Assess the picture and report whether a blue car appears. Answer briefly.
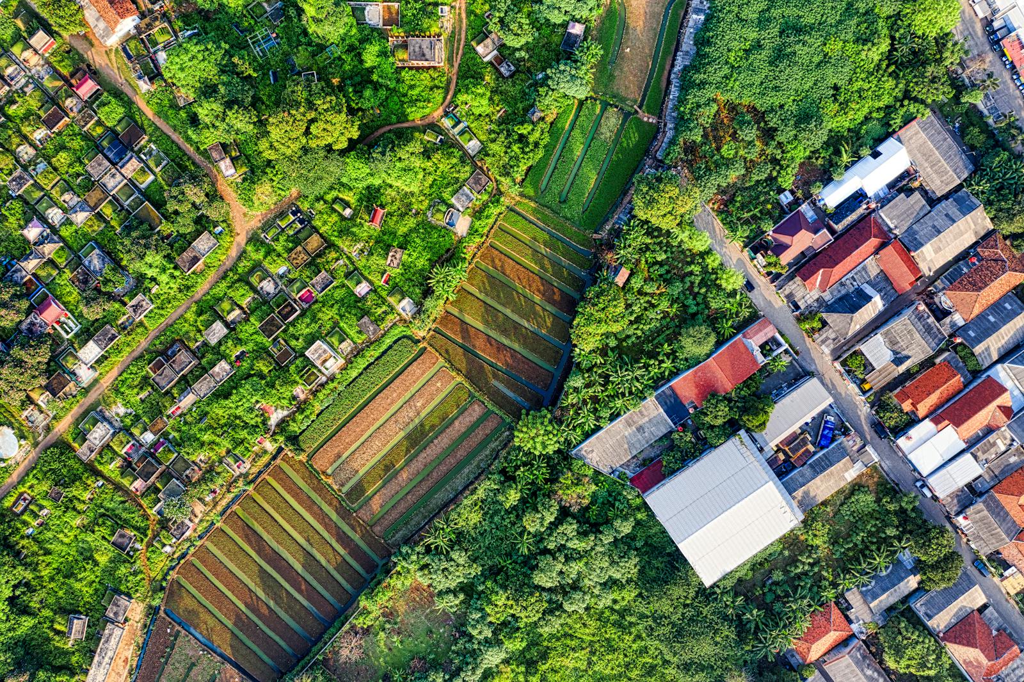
Yes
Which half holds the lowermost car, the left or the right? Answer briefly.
right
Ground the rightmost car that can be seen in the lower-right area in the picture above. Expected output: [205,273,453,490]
[970,556,992,579]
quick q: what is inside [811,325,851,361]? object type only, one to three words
shed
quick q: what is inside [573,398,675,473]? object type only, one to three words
house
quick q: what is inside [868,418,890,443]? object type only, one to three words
car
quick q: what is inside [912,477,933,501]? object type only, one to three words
car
